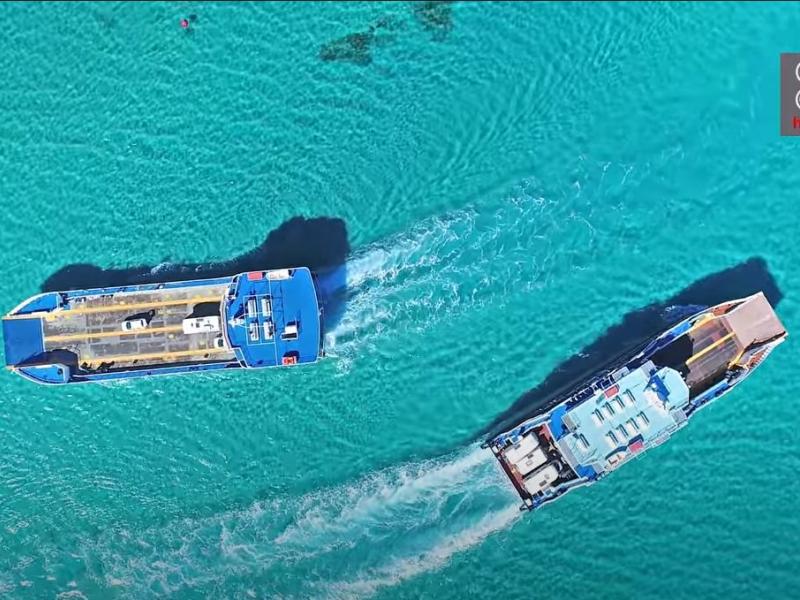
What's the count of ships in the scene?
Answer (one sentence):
There are 2 ships in the image.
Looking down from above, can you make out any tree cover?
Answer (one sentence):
No, there is no tree cover in the image.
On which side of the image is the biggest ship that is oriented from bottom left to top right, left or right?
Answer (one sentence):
It is on the right.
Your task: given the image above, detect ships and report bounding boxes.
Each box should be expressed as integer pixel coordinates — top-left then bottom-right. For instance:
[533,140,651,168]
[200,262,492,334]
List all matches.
[479,292,789,513]
[2,267,327,384]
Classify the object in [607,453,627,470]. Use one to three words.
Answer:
boat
